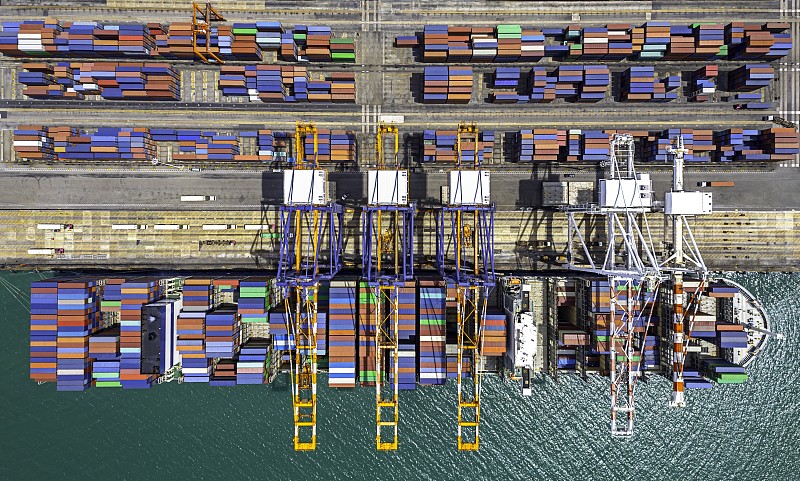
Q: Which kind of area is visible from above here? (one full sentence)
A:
It's a port.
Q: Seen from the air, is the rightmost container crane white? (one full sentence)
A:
Yes, the rightmost container crane appears white.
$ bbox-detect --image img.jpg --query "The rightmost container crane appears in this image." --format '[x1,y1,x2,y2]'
[620,136,712,407]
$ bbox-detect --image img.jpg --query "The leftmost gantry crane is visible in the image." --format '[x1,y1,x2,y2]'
[192,2,224,64]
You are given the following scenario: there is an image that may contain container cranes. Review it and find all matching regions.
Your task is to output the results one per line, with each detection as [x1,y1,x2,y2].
[355,123,419,452]
[430,121,496,452]
[192,2,224,64]
[559,134,662,436]
[273,121,349,452]
[620,136,712,407]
